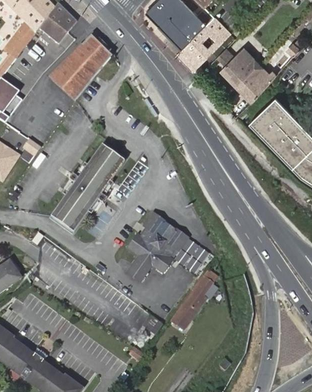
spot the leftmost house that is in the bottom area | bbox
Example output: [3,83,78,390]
[0,253,24,292]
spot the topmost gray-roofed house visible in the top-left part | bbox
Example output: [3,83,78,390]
[40,2,77,44]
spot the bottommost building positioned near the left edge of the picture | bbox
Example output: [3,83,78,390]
[0,324,84,392]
